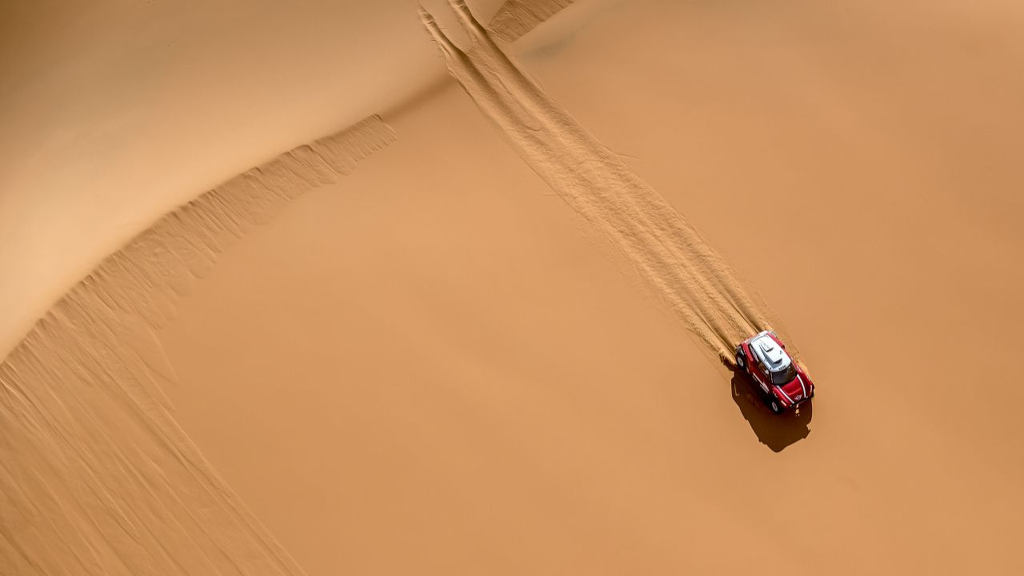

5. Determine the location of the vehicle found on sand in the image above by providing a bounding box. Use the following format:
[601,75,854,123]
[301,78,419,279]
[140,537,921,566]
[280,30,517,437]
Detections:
[731,330,812,415]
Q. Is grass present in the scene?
No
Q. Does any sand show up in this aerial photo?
Yes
